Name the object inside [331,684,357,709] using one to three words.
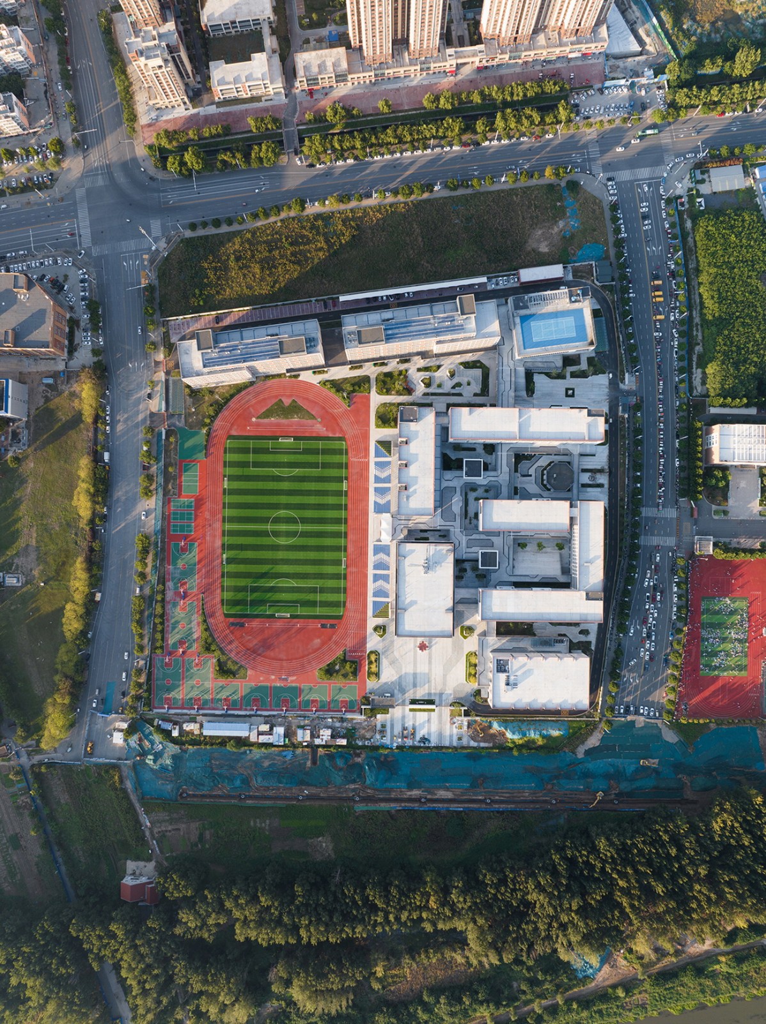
basketball court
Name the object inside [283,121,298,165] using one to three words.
bridge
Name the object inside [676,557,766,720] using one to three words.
sports field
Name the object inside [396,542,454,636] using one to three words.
building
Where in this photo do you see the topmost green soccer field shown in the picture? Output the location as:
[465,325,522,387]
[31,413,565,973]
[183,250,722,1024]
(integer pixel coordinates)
[222,436,348,620]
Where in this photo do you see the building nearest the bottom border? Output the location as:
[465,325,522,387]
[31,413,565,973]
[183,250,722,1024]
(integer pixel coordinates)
[121,874,161,901]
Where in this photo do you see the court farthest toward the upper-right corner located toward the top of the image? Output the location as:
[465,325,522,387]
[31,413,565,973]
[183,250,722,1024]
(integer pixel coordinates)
[519,309,588,350]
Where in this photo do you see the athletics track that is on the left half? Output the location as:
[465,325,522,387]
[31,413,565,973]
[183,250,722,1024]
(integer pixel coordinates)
[204,379,369,710]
